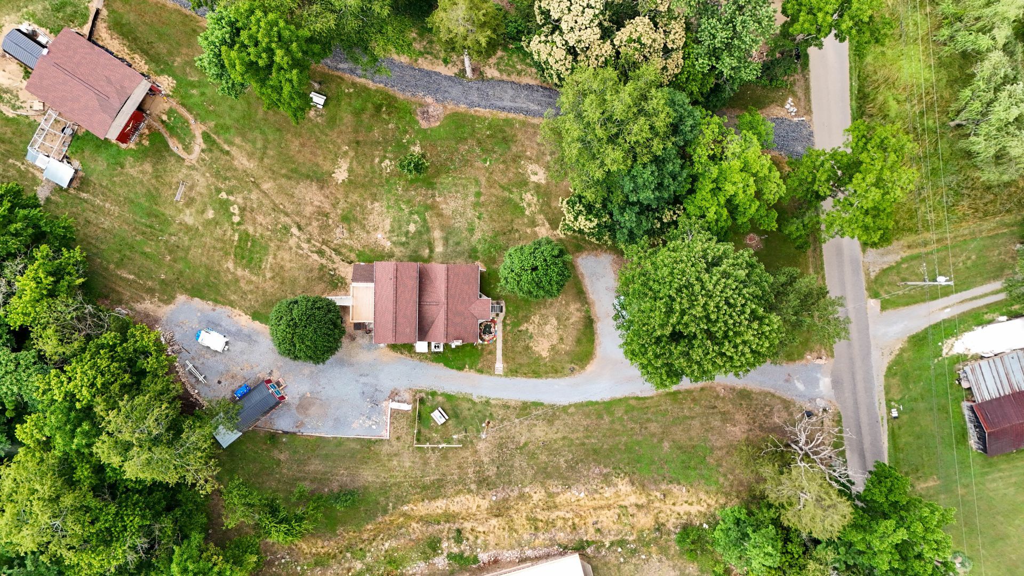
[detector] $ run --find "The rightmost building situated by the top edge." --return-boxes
[26,27,160,144]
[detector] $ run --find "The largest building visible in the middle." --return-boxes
[351,261,492,347]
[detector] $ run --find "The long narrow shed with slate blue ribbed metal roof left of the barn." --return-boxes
[2,29,44,69]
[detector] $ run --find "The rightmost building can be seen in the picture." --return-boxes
[951,348,1024,457]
